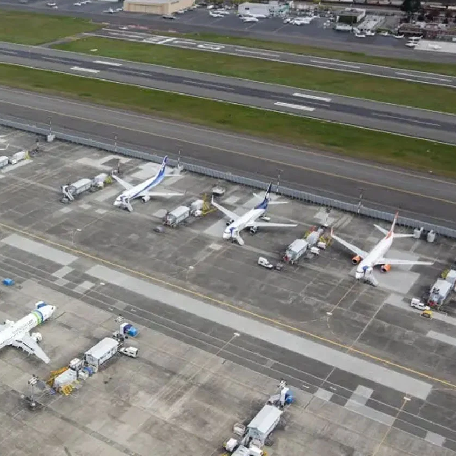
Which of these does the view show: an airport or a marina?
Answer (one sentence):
The picture captures an airport.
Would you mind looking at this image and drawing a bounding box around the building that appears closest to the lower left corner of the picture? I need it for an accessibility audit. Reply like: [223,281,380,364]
[84,333,121,367]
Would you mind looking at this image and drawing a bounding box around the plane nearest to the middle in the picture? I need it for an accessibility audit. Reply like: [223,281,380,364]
[210,182,292,239]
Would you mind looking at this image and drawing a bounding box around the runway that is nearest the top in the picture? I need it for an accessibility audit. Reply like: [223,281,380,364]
[85,28,456,85]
